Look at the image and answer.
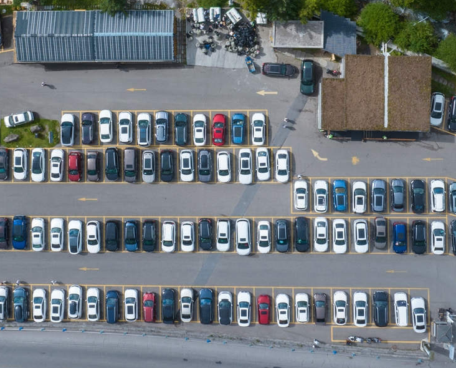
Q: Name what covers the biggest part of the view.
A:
paved ground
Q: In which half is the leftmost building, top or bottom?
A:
top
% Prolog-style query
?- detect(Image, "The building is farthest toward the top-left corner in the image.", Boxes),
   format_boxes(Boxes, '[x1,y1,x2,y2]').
[13,10,176,63]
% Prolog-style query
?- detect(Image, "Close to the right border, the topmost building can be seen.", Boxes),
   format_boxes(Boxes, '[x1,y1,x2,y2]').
[320,43,433,141]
